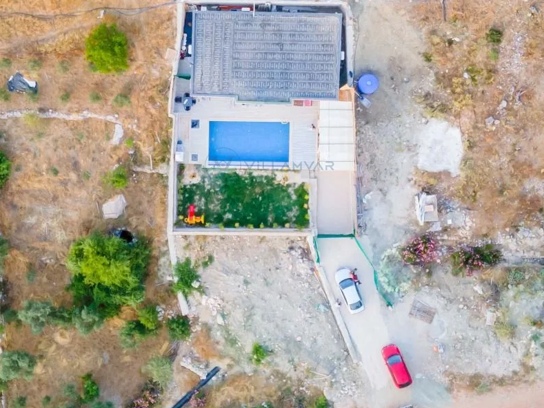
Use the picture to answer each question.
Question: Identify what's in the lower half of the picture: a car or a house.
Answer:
car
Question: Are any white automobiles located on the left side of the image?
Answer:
No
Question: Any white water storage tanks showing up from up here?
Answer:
No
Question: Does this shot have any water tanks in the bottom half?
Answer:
No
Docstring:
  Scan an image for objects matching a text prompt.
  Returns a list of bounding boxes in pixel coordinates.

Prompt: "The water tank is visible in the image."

[353,71,380,95]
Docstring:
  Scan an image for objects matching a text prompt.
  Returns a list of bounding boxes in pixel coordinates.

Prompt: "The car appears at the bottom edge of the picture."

[384,345,413,392]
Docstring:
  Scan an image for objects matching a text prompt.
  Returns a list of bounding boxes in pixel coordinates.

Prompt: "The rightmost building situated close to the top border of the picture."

[191,12,342,105]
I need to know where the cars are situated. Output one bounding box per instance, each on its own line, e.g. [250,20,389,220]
[334,267,366,318]
[384,345,413,392]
